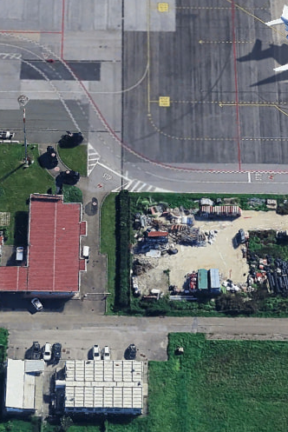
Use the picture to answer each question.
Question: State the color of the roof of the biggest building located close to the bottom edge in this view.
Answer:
white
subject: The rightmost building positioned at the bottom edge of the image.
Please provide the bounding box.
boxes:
[65,360,144,415]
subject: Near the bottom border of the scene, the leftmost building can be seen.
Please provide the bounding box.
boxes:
[4,359,44,417]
